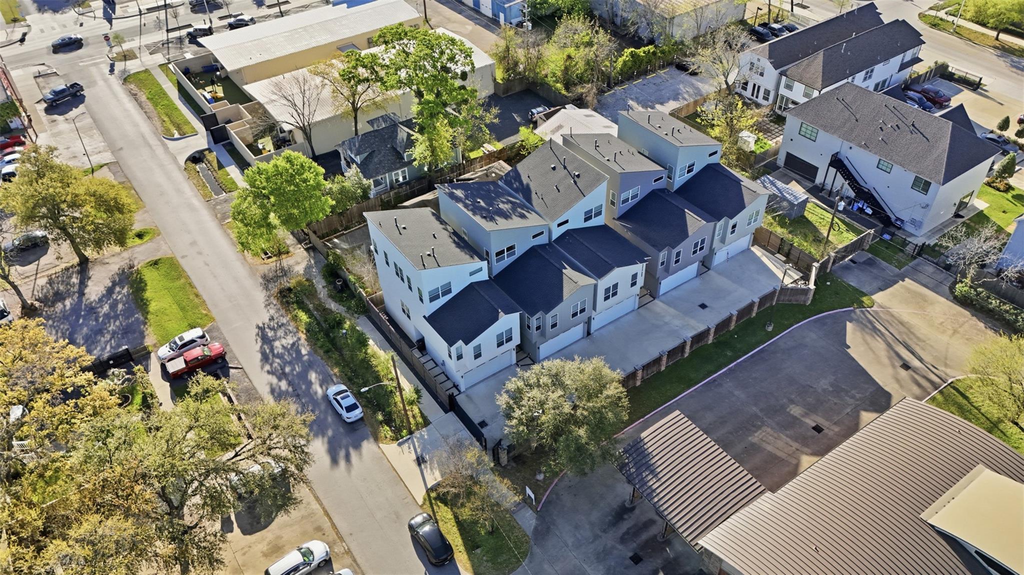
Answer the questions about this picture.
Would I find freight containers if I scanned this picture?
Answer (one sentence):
No, no freight container can be seen from above.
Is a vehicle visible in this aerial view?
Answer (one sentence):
Yes, this view includes a vehicle.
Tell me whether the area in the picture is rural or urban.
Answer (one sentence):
The area is urban.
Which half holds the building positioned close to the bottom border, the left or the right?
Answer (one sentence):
You can find the building positioned close to the bottom border on the right side of the picture.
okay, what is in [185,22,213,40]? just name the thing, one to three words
car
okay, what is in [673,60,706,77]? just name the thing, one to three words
car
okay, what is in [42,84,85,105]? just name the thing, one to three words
truck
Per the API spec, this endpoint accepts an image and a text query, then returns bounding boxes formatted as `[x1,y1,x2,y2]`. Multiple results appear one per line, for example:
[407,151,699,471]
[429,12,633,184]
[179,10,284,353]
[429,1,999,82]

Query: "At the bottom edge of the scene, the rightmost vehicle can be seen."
[406,507,458,569]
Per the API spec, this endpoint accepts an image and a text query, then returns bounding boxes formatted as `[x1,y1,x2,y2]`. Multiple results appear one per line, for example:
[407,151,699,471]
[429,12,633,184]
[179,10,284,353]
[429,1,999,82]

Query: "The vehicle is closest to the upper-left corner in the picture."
[52,34,82,48]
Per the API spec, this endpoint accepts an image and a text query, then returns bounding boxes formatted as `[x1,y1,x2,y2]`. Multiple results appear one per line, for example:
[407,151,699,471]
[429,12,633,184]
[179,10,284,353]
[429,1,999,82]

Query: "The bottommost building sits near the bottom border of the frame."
[697,396,1024,575]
